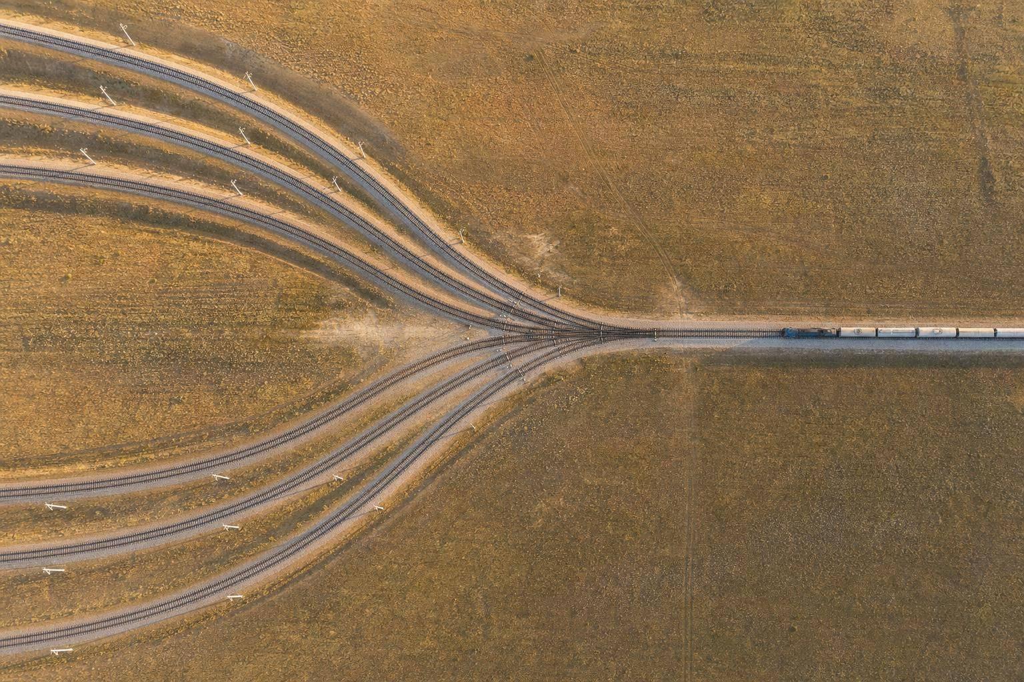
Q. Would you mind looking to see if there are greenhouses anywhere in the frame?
No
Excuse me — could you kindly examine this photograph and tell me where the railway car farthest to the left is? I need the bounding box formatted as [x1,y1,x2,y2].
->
[779,325,836,338]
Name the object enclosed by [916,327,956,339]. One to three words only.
rail car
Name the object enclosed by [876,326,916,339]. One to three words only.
rail car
